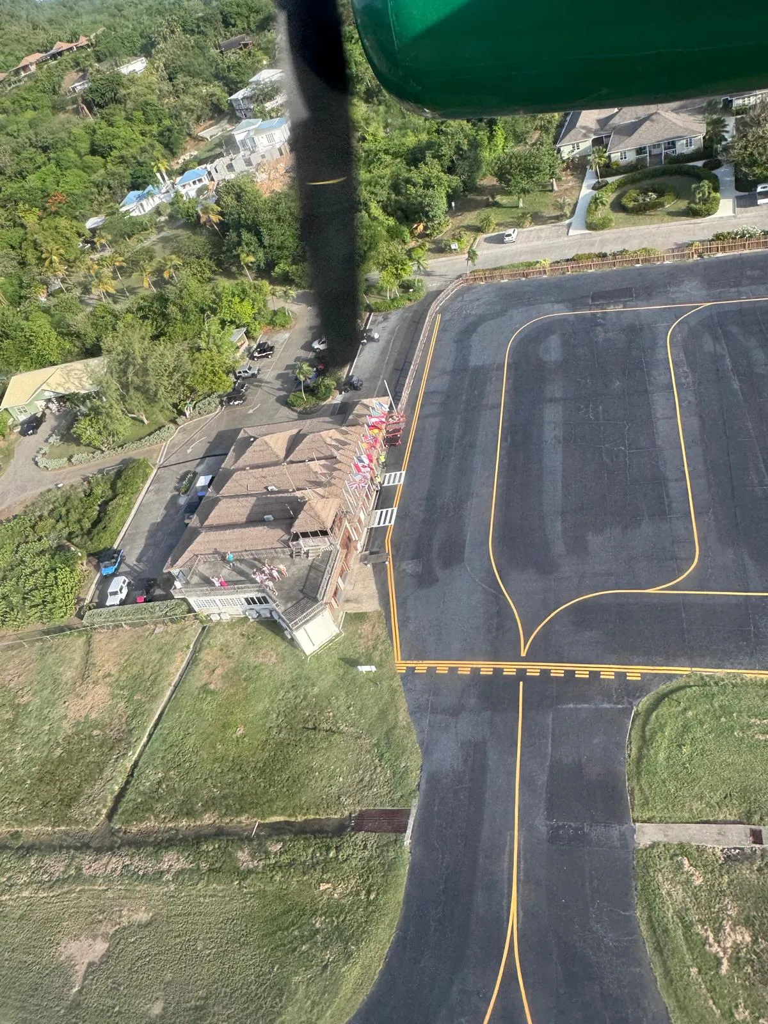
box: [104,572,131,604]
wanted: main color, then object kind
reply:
white car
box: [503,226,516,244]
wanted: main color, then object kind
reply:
white vehicle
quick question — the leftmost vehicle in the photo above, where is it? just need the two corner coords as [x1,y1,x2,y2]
[20,415,39,434]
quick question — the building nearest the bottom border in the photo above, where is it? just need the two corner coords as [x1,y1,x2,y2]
[166,391,391,658]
